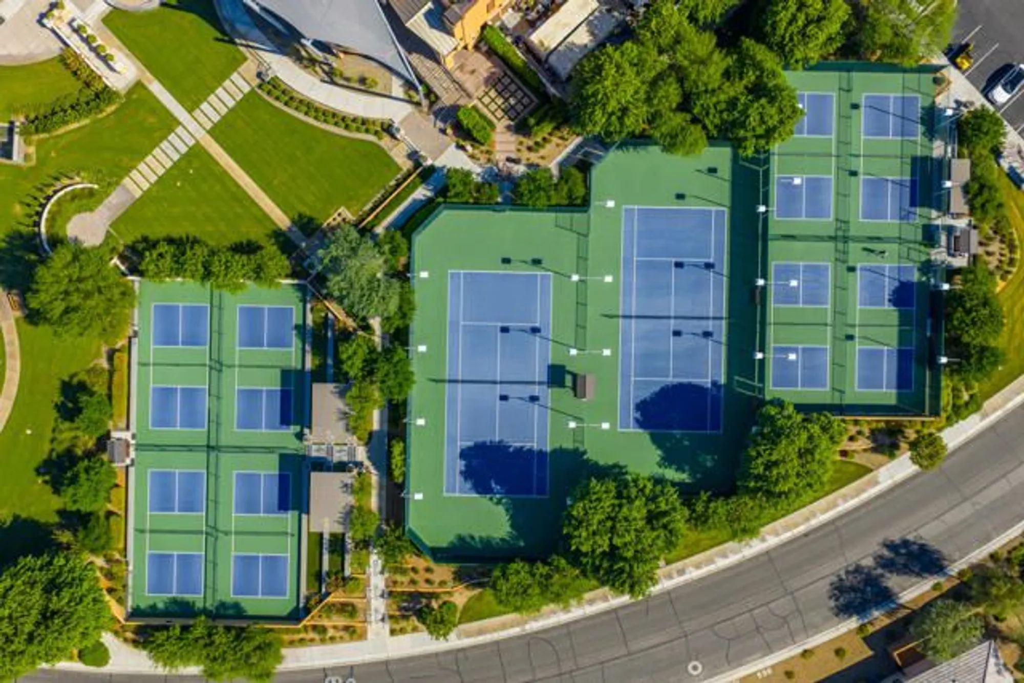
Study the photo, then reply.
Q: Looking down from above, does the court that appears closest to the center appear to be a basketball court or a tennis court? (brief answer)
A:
tennis court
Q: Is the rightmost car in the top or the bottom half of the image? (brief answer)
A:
top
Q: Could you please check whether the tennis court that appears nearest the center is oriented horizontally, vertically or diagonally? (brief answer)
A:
vertically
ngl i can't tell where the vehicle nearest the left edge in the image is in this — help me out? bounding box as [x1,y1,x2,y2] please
[953,42,983,71]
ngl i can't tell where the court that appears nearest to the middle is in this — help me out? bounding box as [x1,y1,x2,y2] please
[444,271,553,497]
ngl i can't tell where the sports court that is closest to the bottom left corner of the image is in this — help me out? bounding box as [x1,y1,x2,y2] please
[146,470,207,598]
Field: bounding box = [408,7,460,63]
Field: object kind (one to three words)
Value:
building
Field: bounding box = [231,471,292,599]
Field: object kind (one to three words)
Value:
sports court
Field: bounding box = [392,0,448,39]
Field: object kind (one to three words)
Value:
building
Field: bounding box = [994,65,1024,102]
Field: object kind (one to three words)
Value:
car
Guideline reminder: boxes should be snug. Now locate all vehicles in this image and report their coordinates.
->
[953,42,983,71]
[994,65,1024,102]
